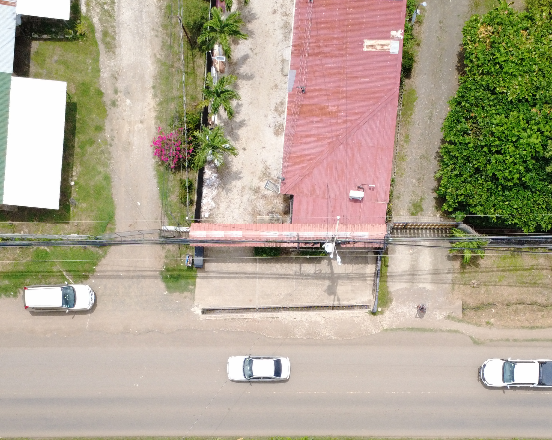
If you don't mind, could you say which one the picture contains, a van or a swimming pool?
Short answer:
van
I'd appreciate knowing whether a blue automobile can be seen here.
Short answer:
No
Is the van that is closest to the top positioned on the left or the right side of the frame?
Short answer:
left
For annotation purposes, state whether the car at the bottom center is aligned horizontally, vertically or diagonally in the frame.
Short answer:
horizontally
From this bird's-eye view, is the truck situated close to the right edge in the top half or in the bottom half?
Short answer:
bottom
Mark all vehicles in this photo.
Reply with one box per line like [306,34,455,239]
[226,354,291,384]
[27,281,98,314]
[478,356,552,391]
